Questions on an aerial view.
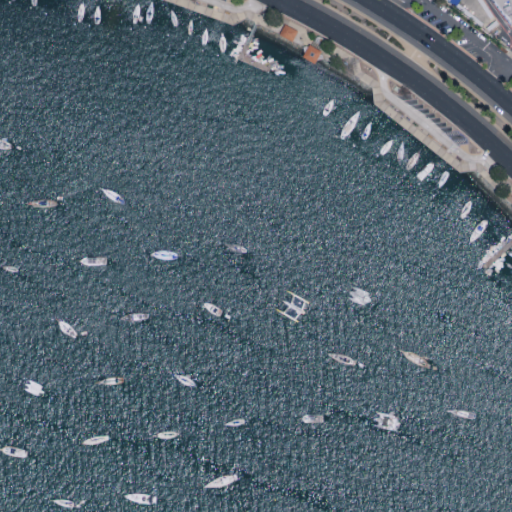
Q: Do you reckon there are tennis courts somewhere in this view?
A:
No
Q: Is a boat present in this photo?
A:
Yes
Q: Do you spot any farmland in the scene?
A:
No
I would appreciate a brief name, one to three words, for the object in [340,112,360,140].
boat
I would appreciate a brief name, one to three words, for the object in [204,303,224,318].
boat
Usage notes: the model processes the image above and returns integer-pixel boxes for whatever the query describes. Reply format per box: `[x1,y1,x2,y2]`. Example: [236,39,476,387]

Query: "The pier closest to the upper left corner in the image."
[240,24,270,73]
